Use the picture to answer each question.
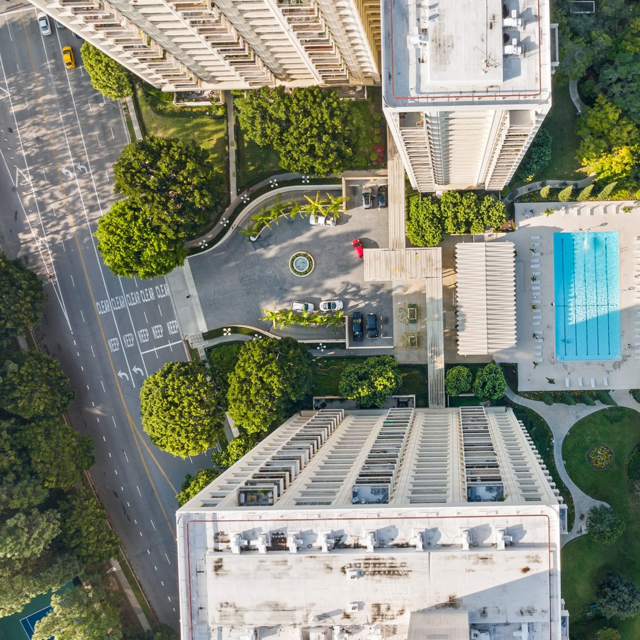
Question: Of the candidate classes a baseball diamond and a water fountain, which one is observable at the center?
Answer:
water fountain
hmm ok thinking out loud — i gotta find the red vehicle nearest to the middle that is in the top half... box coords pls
[350,238,364,261]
